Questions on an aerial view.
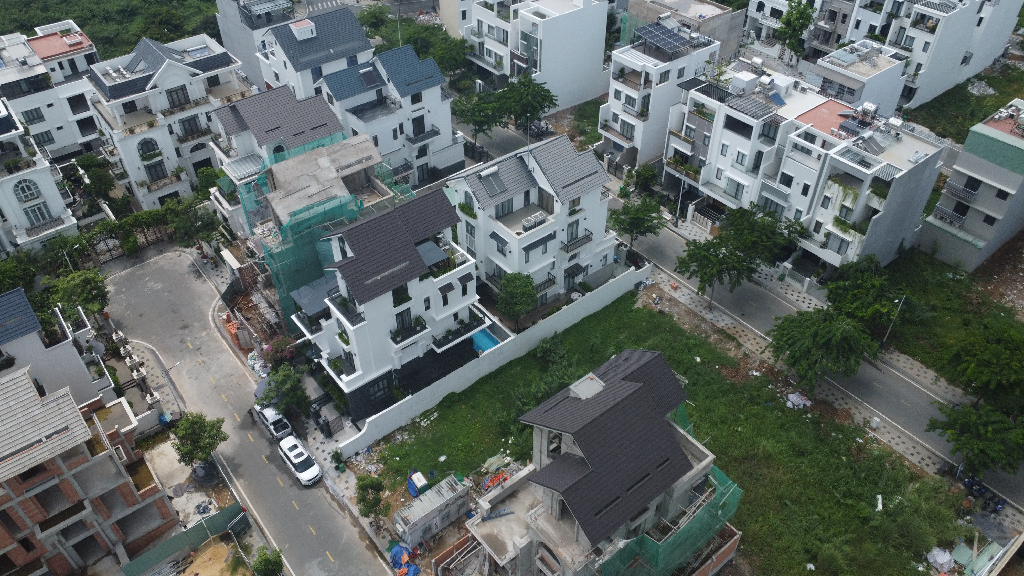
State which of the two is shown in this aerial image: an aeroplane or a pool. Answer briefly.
pool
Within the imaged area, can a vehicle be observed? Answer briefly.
Yes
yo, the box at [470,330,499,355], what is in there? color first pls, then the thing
blue swimming pool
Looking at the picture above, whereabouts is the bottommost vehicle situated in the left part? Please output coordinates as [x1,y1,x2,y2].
[280,438,320,484]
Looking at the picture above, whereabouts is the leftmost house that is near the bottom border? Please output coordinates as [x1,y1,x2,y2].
[0,366,180,576]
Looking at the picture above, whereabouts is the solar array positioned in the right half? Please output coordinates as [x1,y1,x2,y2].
[634,22,694,62]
